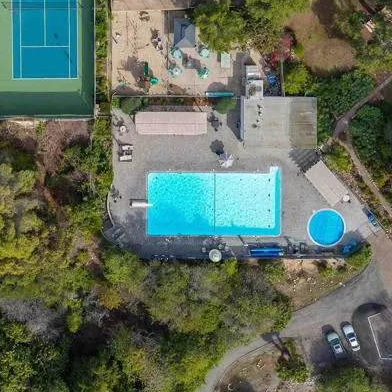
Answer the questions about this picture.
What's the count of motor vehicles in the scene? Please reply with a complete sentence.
Looking from above, you can make out 2 motor vehicles.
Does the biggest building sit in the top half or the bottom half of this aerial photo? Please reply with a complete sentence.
The biggest building is in the top half of the image.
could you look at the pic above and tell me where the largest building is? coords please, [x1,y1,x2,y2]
[239,66,317,151]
